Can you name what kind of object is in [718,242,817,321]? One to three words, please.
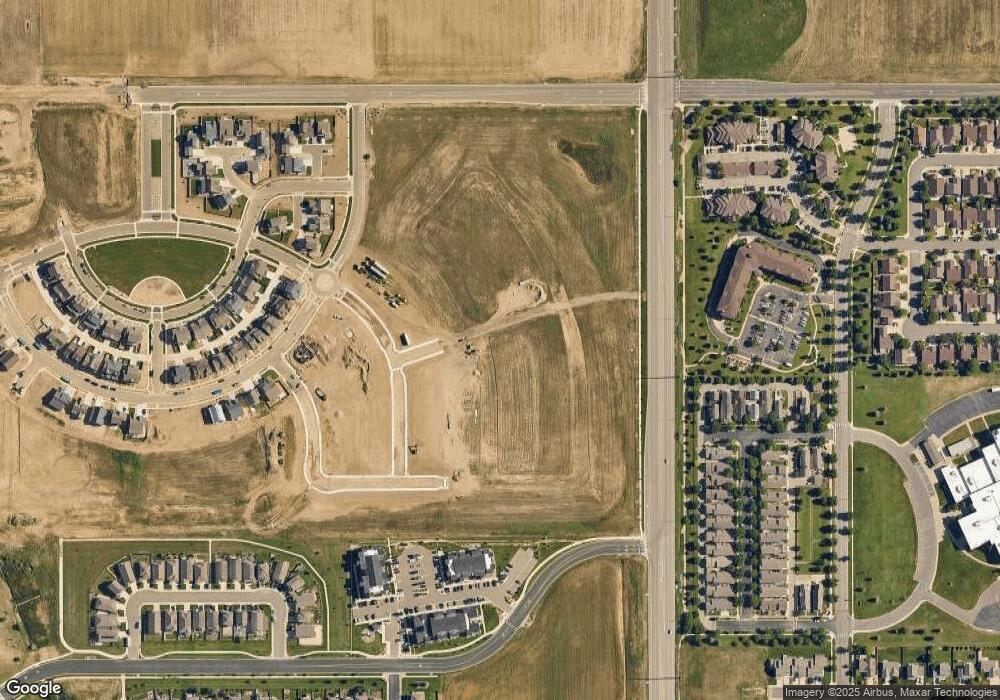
building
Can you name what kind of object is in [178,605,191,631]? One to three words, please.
house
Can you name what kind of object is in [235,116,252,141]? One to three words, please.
house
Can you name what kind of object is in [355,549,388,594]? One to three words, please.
building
